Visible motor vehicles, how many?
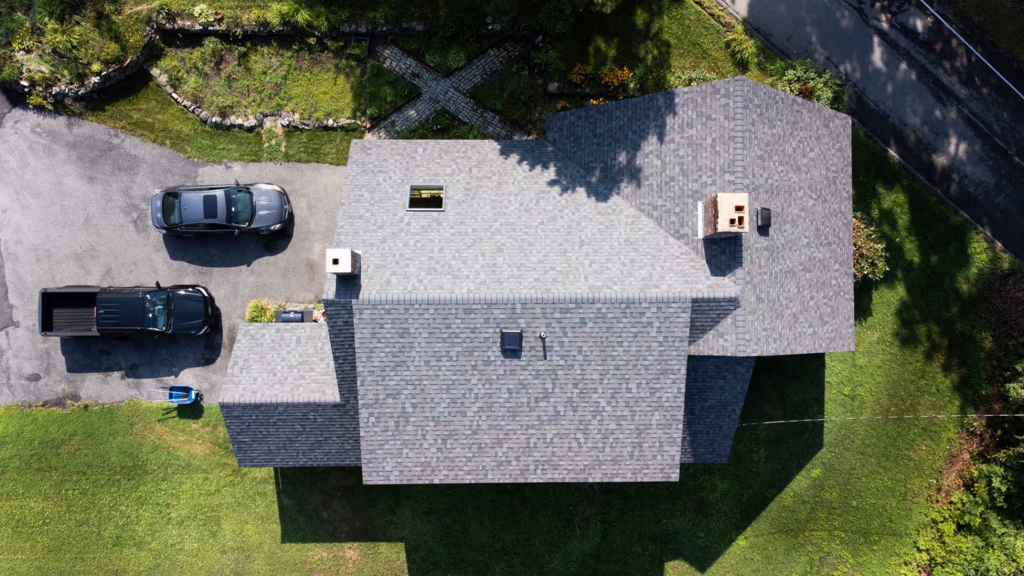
two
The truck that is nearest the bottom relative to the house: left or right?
left of it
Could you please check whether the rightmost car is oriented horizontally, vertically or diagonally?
horizontally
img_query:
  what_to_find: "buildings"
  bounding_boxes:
[218,78,855,484]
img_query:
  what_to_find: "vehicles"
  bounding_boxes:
[38,280,216,344]
[151,177,294,241]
